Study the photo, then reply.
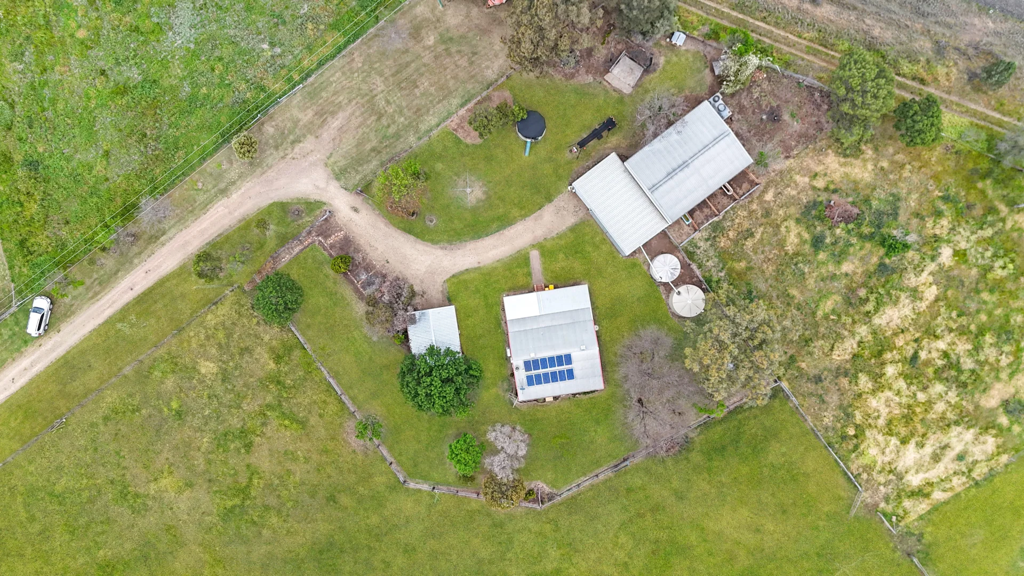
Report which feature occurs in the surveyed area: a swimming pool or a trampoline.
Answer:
trampoline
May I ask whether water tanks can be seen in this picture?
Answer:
Yes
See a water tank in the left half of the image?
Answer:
No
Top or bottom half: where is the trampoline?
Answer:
top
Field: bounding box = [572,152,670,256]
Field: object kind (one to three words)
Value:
shed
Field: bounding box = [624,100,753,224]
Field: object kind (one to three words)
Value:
barn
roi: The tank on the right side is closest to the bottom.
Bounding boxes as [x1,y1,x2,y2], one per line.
[669,284,706,317]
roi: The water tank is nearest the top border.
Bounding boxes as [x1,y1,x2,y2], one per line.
[649,253,681,283]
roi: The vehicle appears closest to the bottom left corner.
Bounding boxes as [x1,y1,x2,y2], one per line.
[26,296,53,338]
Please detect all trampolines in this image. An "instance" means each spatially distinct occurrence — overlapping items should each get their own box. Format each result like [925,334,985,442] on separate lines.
[516,111,547,156]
